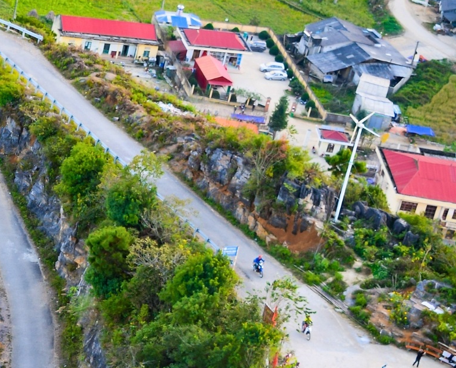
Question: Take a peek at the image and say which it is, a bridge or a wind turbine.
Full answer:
It is a wind turbine that can be seen here.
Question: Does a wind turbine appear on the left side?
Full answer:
No, the scene shows no wind turbine on the left side.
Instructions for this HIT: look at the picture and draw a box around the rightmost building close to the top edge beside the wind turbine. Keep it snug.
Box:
[302,18,411,91]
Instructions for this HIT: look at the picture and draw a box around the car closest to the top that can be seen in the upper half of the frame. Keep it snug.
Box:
[249,38,272,51]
